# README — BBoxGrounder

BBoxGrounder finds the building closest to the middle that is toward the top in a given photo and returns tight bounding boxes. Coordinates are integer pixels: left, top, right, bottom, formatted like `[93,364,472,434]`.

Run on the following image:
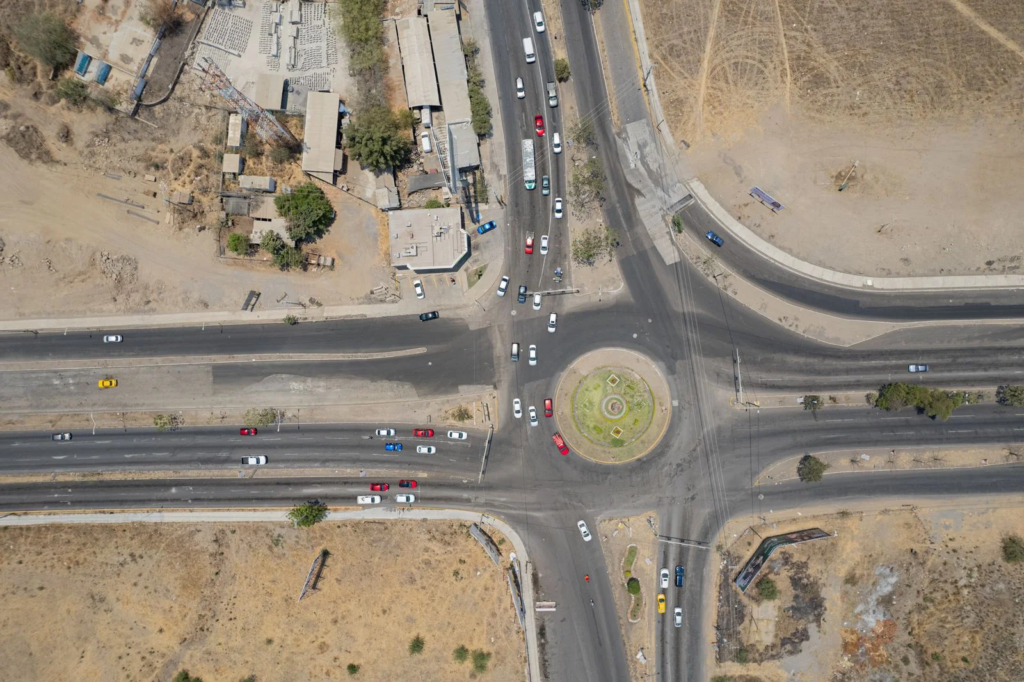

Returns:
[388,207,470,271]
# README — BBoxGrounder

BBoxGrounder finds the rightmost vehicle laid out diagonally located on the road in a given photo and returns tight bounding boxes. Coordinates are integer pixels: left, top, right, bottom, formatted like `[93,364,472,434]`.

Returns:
[705,232,725,247]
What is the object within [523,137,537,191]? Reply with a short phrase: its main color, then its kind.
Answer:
white vehicle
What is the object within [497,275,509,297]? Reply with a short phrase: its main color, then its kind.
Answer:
white vehicle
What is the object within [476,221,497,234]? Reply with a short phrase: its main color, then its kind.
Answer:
blue vehicle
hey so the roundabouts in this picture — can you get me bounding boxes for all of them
[555,348,671,464]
